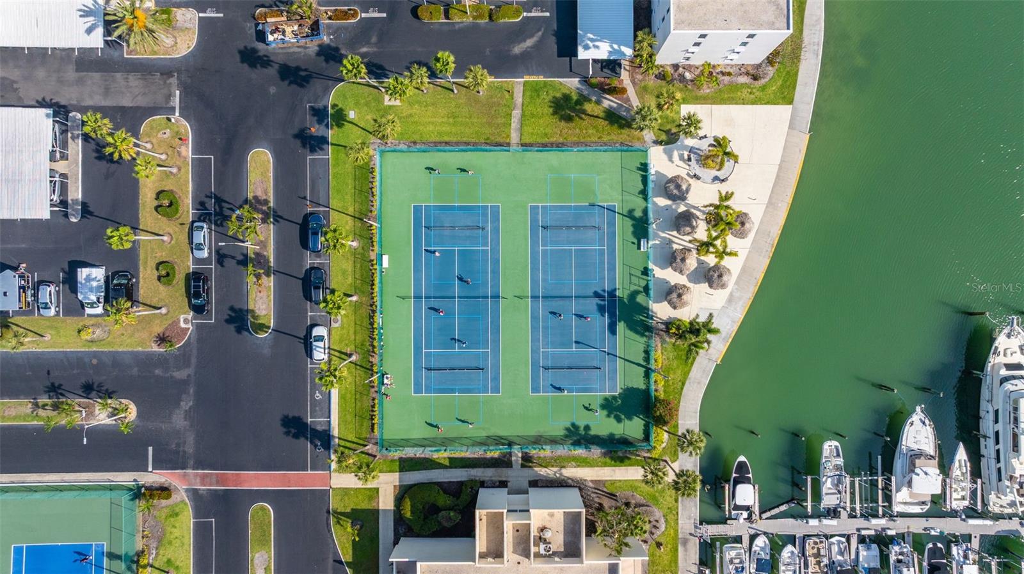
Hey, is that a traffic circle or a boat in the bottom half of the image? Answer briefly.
boat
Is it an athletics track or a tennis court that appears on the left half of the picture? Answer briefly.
tennis court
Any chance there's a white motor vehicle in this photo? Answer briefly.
Yes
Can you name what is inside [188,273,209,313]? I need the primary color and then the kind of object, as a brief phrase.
black car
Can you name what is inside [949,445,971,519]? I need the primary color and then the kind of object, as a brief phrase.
white boat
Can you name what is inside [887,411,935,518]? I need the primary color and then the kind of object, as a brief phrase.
white boat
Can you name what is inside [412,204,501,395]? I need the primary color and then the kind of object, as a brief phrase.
blue tennis court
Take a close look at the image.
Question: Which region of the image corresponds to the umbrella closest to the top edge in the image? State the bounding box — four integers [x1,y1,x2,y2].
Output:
[663,175,690,202]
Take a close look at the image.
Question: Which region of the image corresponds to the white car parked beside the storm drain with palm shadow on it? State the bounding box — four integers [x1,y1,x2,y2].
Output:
[309,325,328,362]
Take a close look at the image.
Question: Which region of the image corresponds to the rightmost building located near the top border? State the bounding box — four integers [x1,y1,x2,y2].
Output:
[652,0,794,62]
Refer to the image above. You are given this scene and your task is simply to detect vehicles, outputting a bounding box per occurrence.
[188,273,209,313]
[107,270,130,313]
[306,213,325,252]
[191,220,209,259]
[75,269,106,316]
[53,122,64,160]
[35,280,57,317]
[309,325,328,362]
[307,266,325,304]
[53,168,64,205]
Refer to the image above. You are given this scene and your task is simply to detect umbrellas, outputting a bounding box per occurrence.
[731,213,754,238]
[663,175,690,202]
[705,264,730,290]
[674,210,699,236]
[669,248,696,275]
[666,283,691,309]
